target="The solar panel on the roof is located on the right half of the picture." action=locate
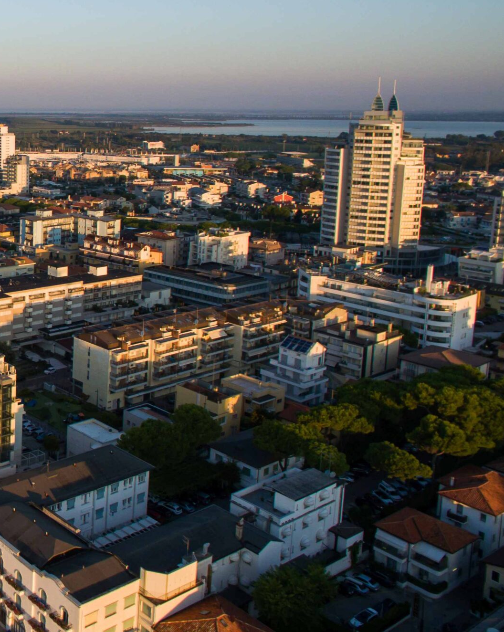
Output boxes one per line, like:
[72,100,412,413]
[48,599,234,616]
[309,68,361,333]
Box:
[297,337,325,351]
